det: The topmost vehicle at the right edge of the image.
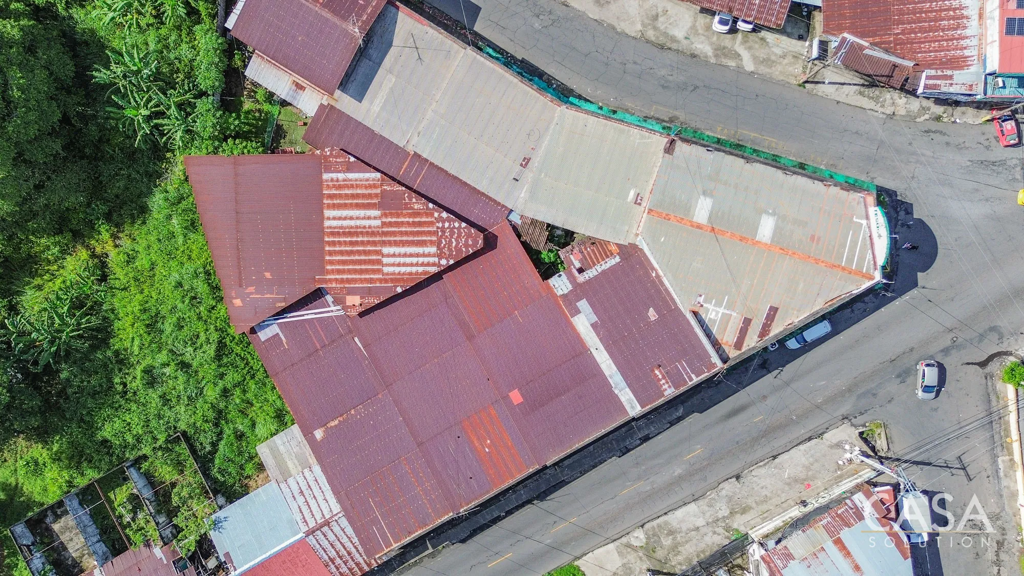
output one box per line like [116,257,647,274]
[992,108,1022,152]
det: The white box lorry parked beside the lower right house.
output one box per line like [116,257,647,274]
[894,490,931,546]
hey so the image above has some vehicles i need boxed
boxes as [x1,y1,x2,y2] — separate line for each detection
[894,490,931,546]
[992,108,1022,152]
[709,10,732,37]
[1019,190,1024,206]
[738,18,757,34]
[914,359,940,401]
[783,318,833,351]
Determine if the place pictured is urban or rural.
urban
